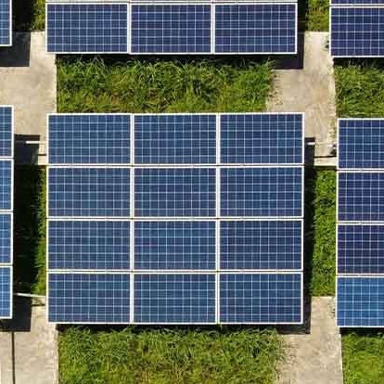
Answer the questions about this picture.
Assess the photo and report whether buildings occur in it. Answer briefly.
No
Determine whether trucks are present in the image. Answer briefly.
No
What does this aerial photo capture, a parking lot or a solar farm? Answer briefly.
solar farm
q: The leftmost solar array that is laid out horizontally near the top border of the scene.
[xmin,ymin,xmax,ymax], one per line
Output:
[46,0,297,54]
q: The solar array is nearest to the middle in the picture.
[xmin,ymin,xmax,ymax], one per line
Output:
[46,113,304,324]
